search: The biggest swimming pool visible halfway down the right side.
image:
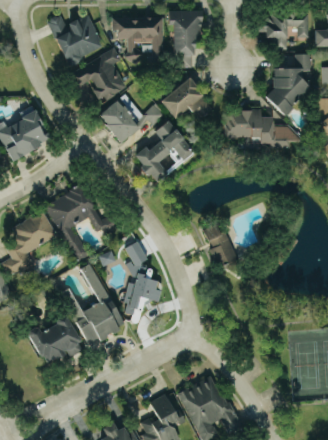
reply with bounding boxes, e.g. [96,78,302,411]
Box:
[228,202,267,249]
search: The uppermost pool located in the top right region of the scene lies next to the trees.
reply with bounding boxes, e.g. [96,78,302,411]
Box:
[288,107,306,131]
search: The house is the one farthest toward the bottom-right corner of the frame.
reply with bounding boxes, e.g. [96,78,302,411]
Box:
[175,374,241,440]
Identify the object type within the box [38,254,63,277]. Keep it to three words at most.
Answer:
swimming pool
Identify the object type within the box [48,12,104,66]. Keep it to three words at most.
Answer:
house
